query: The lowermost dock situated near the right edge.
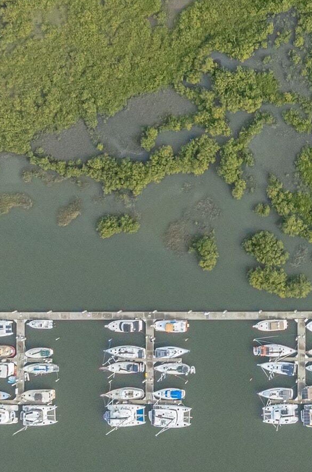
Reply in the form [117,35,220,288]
[270,320,312,404]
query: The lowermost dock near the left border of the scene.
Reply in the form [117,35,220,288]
[0,320,54,405]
